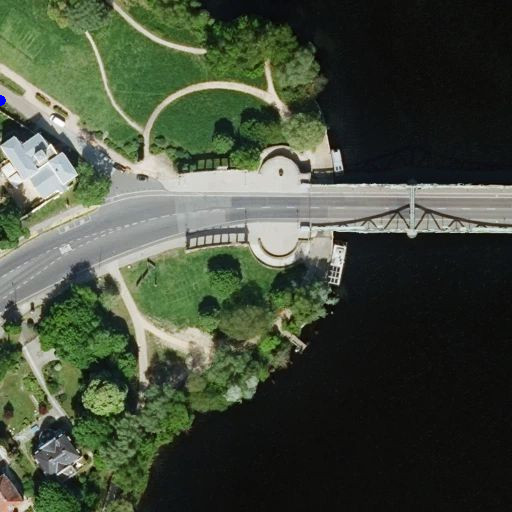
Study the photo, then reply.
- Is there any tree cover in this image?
Yes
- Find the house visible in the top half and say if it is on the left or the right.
left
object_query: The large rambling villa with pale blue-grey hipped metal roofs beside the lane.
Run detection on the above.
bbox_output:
[0,133,76,198]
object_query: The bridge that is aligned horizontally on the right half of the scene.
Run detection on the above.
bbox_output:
[310,178,512,238]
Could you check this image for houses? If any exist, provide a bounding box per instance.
[0,474,23,512]
[32,434,82,478]
[0,133,76,198]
